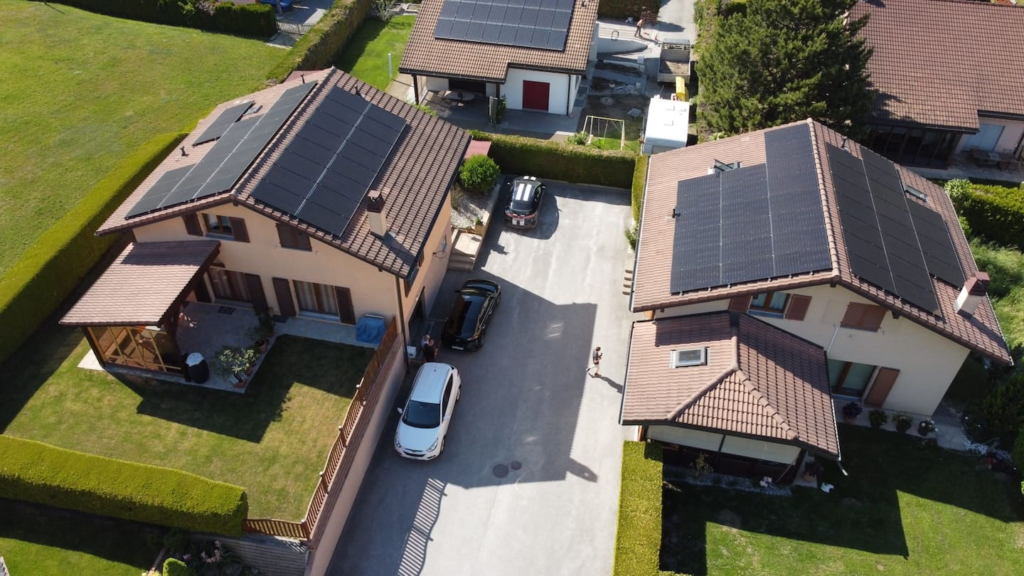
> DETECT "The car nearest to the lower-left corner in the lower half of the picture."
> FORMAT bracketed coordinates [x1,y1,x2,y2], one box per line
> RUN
[394,364,461,463]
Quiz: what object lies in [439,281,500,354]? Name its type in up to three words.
car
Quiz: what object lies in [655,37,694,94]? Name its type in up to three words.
truck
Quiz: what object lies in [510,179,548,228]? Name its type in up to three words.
car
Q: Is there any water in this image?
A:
No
